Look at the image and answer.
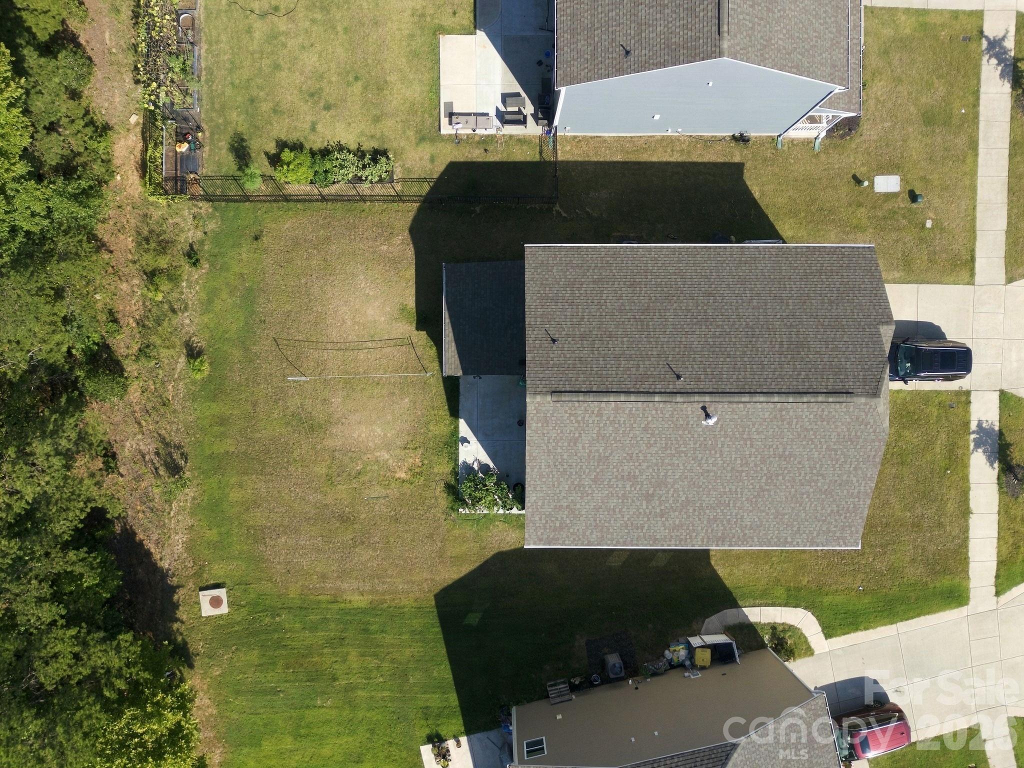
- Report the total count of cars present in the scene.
2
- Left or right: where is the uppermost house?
right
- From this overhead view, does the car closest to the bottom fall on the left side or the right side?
right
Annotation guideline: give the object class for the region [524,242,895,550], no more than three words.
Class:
house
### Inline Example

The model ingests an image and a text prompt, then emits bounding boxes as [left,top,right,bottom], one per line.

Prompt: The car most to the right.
[887,336,973,385]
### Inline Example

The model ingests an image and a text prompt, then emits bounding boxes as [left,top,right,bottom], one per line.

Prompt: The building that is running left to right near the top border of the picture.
[553,0,864,138]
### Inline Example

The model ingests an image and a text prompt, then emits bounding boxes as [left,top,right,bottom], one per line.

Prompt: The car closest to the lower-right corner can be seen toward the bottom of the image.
[833,702,912,765]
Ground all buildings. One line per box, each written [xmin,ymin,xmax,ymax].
[553,0,864,138]
[524,242,895,550]
[505,647,844,768]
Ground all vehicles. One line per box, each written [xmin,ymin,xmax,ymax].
[833,702,912,765]
[887,336,973,385]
